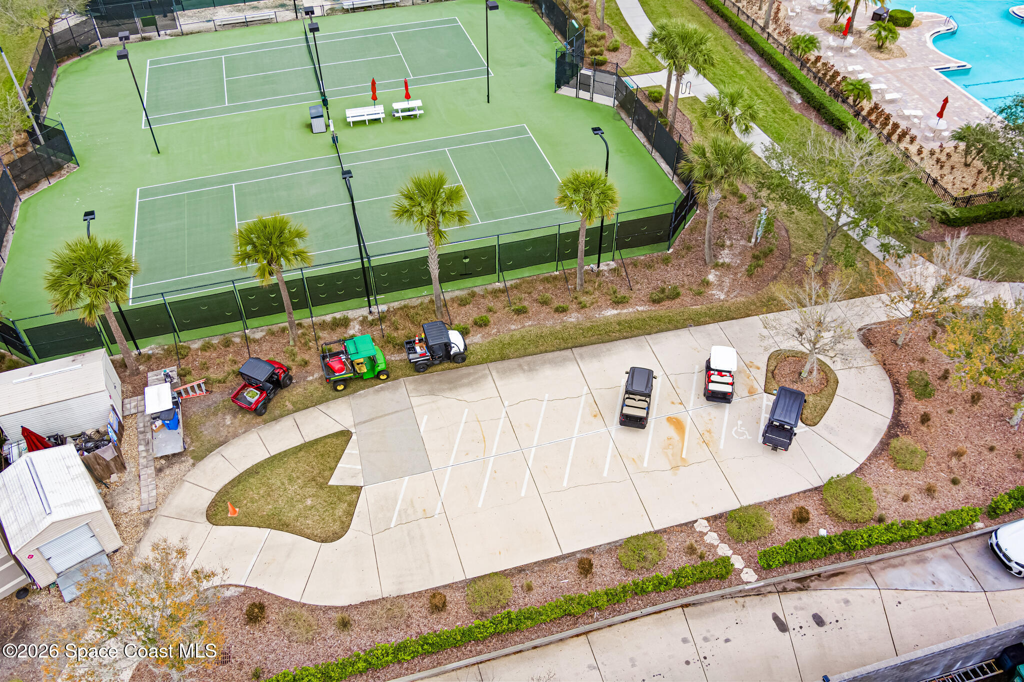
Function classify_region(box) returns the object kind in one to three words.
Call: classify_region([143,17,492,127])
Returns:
tennis court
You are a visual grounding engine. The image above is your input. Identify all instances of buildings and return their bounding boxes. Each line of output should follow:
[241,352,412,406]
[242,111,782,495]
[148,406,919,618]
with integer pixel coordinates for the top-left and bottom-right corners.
[0,443,124,601]
[0,347,123,444]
